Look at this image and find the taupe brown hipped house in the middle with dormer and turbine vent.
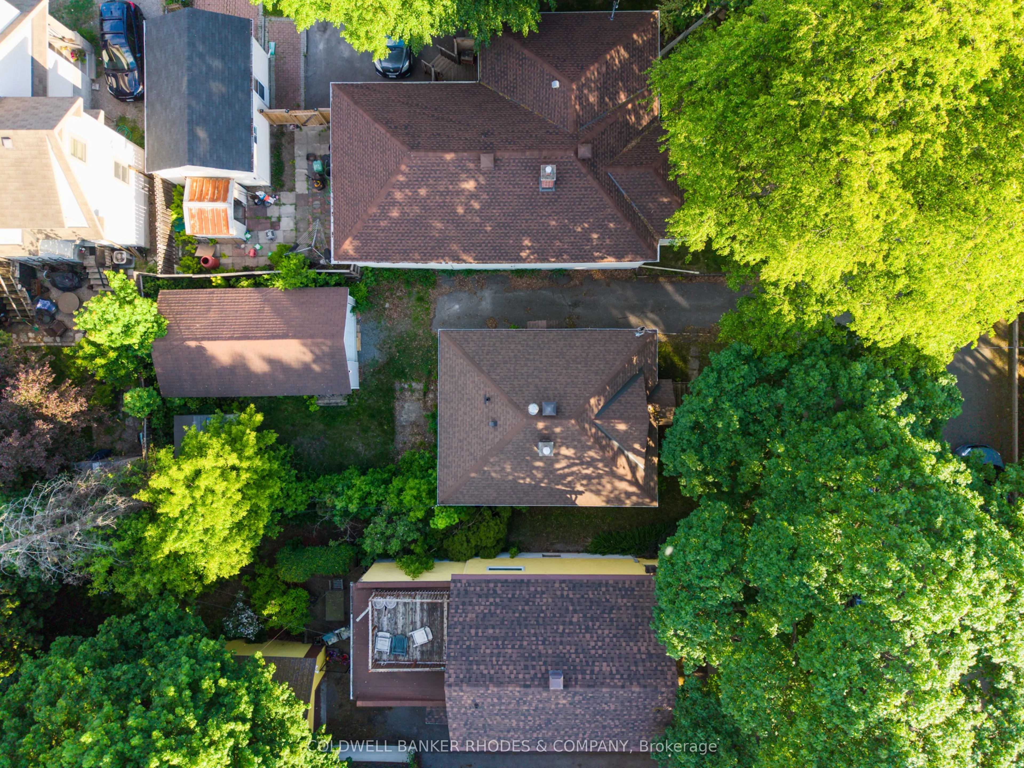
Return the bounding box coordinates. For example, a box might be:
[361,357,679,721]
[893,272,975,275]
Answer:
[436,327,677,508]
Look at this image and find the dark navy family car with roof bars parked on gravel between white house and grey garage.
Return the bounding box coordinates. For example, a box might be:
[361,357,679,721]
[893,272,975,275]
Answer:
[88,4,141,106]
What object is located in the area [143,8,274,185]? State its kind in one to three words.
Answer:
building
